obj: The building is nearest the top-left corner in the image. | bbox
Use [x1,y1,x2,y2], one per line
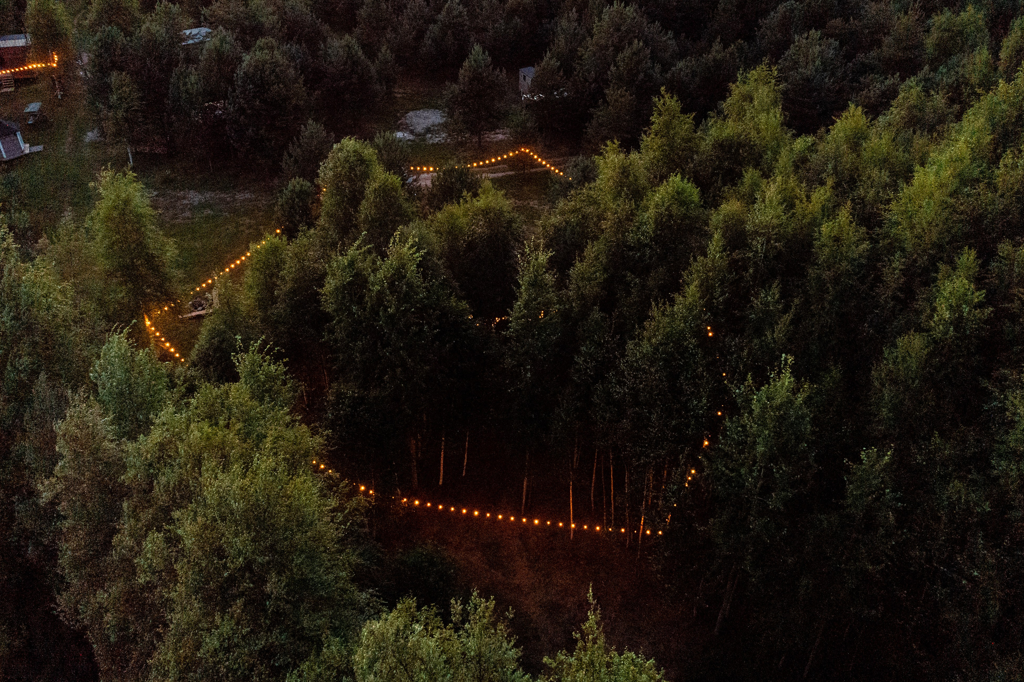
[0,36,54,86]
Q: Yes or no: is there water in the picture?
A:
No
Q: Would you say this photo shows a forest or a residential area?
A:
forest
